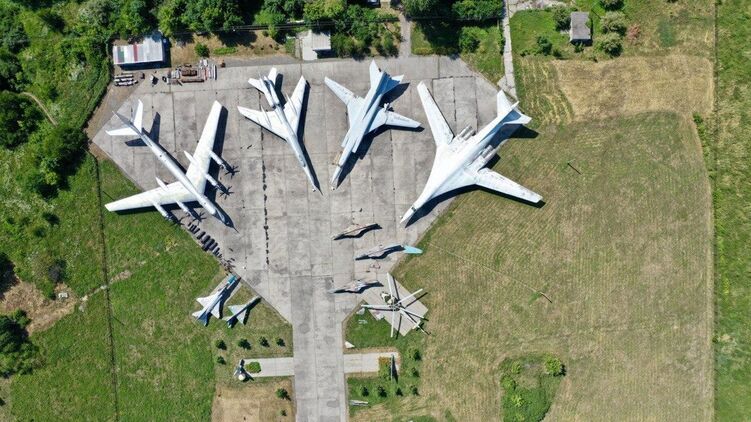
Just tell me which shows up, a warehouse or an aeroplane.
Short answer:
aeroplane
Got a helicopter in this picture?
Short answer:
Yes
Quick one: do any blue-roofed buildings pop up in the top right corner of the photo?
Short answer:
No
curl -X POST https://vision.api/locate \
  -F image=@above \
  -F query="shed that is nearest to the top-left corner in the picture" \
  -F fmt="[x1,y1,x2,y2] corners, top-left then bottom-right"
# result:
[113,45,148,65]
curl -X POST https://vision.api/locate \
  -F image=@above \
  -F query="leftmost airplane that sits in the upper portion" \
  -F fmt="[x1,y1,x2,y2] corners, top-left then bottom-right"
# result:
[105,99,238,233]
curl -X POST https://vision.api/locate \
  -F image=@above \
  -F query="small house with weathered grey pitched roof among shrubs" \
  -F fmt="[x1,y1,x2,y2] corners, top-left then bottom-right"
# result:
[569,12,590,41]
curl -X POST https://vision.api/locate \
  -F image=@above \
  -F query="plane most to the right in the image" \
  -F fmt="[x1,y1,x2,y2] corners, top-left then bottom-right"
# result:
[400,80,541,223]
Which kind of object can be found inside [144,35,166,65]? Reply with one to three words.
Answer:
building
